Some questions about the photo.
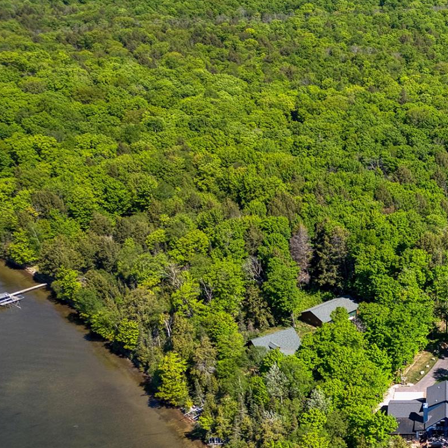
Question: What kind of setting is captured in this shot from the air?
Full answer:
The picture captures a forest.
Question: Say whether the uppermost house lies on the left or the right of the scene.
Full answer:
The uppermost house sits on the right side.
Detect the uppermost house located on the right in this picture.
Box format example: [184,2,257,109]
[302,295,354,329]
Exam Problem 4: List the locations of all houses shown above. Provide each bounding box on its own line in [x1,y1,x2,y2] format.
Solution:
[247,326,303,353]
[302,295,354,329]
[388,379,448,442]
